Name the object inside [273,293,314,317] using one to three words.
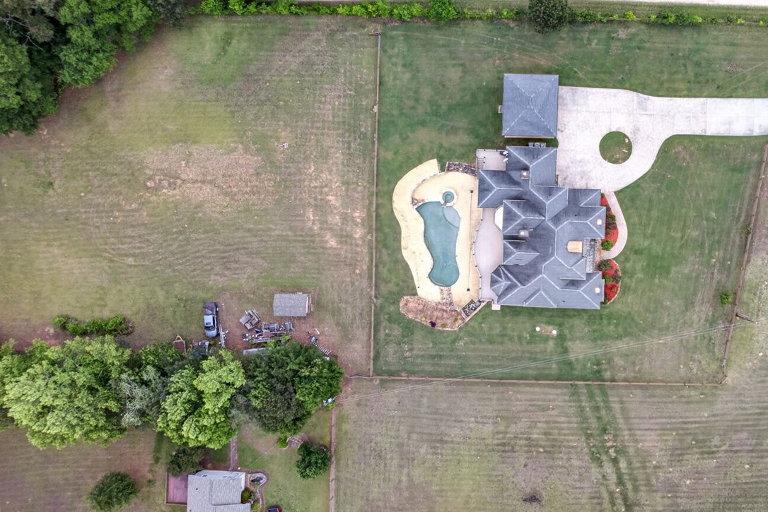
shed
